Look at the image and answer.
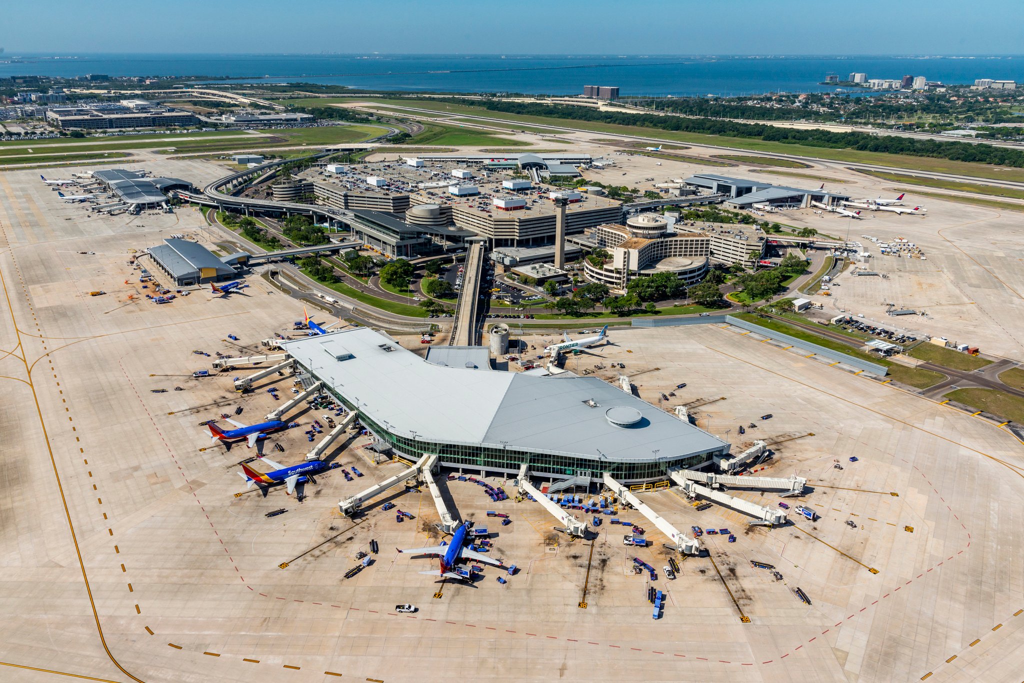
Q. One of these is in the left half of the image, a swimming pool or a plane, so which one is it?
plane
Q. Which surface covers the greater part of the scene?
paved ground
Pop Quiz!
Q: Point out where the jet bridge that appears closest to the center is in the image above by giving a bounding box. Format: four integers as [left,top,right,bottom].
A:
[544,345,563,375]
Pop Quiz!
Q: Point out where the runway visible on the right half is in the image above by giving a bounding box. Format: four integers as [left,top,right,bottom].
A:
[341,102,1024,188]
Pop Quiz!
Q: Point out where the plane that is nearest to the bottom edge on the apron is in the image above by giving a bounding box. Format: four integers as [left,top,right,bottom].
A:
[397,523,501,578]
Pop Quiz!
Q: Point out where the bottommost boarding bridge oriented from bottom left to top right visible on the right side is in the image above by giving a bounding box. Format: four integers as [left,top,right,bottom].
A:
[713,438,767,474]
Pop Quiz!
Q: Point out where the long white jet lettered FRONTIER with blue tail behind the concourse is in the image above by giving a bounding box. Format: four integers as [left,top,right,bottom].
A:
[545,325,613,354]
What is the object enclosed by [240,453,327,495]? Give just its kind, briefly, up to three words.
airplane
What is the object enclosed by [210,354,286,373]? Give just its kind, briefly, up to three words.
jet bridge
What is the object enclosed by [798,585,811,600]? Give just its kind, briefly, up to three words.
vehicle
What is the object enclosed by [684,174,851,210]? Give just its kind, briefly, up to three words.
building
